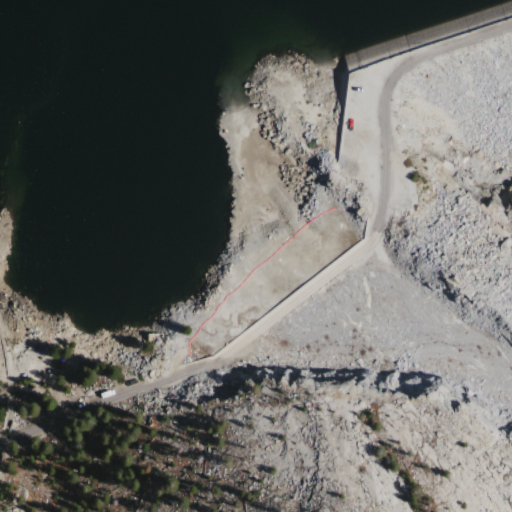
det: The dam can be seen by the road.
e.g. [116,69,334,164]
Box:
[344,0,512,72]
